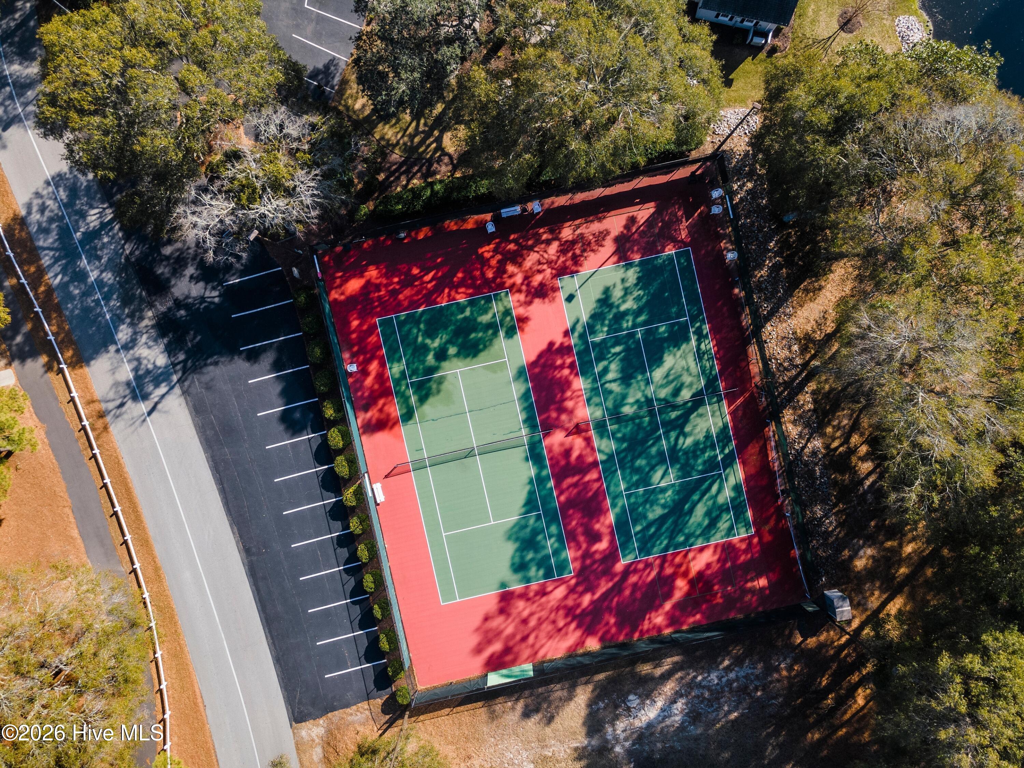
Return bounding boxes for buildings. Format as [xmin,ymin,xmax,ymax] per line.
[821,588,850,620]
[697,0,801,54]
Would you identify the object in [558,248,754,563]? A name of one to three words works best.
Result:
tennis court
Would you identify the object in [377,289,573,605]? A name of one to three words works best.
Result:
tennis court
